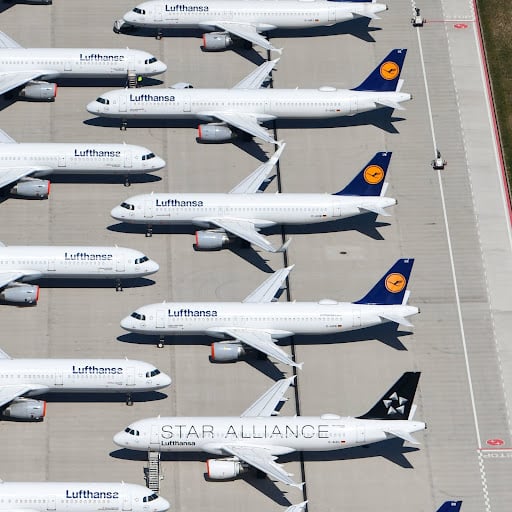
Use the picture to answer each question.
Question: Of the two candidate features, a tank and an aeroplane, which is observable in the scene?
aeroplane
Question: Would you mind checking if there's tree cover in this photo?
No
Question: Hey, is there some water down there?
No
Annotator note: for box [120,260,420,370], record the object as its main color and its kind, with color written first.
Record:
white airplane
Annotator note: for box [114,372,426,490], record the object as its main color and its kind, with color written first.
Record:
white airplane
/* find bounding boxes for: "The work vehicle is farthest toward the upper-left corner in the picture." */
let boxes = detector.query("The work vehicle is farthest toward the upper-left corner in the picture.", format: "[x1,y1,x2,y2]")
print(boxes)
[114,20,139,33]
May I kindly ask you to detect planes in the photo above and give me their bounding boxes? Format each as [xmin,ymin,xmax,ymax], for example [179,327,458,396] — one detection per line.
[0,474,170,512]
[0,124,166,194]
[0,240,160,302]
[87,48,412,146]
[0,28,166,99]
[0,346,172,418]
[114,372,426,490]
[110,142,397,252]
[120,260,420,370]
[124,0,388,54]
